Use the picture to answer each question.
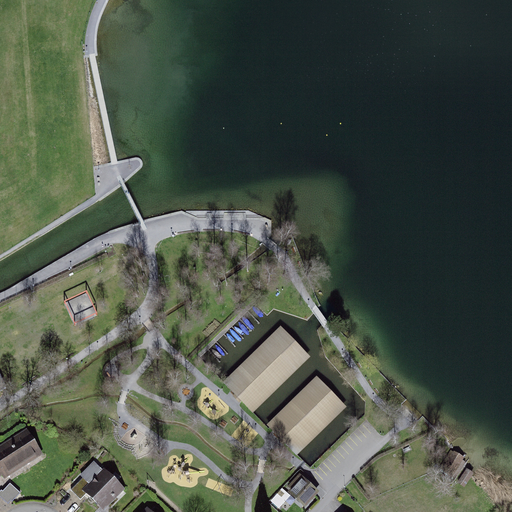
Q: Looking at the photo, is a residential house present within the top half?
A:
No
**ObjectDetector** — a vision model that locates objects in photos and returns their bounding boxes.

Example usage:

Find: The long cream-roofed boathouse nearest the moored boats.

[224,326,310,412]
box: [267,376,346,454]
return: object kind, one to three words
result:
building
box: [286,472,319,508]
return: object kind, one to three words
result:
building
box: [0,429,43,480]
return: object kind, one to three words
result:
house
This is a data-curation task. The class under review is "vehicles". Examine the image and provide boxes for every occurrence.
[60,494,70,504]
[68,502,79,512]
